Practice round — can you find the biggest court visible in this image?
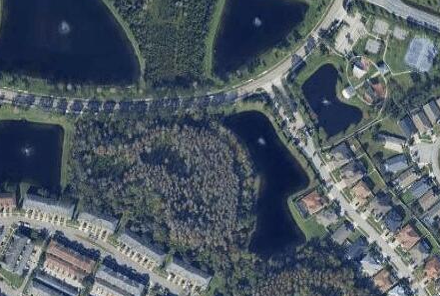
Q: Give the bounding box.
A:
[405,36,439,70]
